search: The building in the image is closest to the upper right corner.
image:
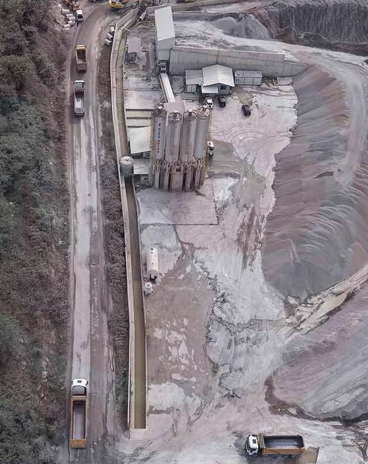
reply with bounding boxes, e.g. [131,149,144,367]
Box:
[201,65,235,100]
